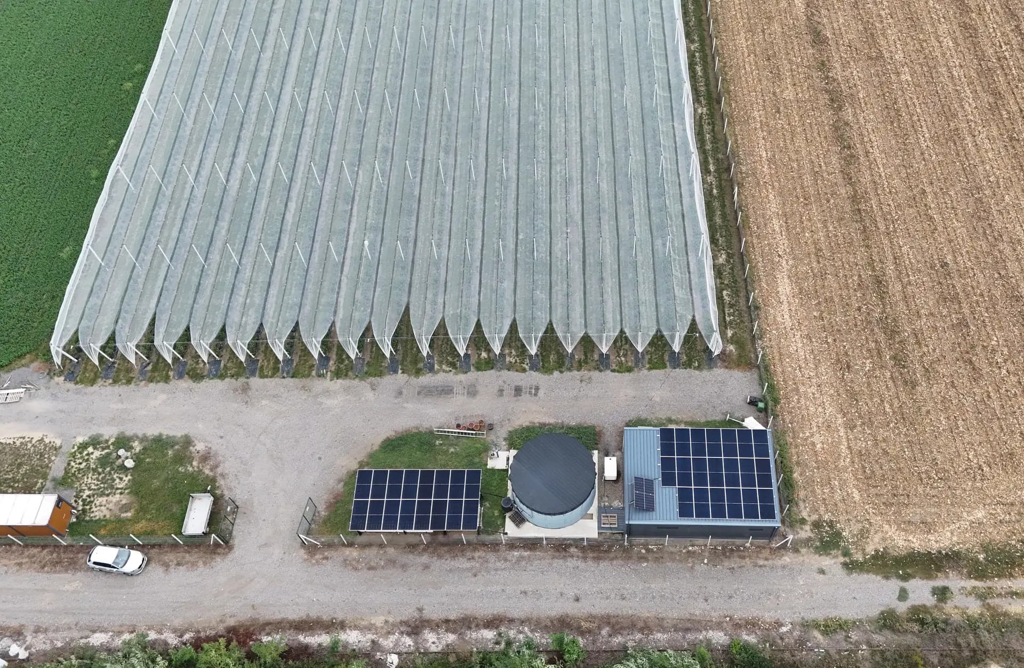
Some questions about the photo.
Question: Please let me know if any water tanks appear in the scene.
Yes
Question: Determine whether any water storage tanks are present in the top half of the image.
No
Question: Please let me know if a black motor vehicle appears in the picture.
No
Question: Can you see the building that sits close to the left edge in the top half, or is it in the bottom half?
bottom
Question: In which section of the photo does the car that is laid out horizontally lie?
bottom left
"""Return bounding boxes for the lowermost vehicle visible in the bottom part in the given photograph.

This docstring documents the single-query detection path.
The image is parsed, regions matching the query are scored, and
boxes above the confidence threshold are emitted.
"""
[85,542,150,575]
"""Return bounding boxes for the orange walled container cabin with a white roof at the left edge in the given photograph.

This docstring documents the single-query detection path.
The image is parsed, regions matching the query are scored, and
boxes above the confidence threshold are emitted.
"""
[0,494,76,536]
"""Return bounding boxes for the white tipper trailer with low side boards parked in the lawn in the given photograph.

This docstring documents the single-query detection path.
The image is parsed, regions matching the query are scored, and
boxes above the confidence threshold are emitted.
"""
[181,485,214,536]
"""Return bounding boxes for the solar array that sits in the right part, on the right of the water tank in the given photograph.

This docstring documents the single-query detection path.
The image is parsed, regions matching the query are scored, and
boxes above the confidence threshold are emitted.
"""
[658,427,778,521]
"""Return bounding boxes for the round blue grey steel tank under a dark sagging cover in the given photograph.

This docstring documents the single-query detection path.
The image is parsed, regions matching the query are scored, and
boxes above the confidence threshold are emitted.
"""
[509,433,597,528]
